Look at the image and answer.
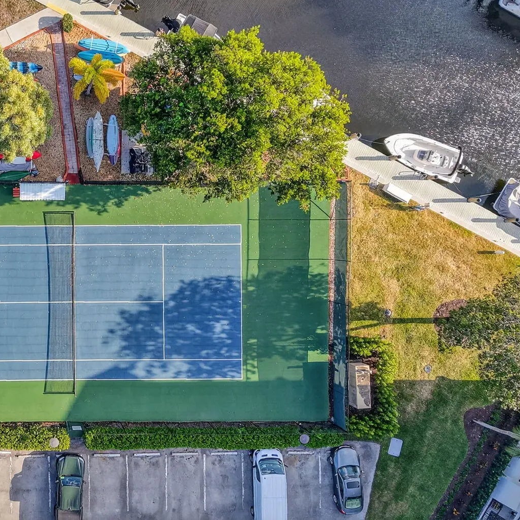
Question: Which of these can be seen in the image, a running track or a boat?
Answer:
boat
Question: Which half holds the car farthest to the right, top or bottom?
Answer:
bottom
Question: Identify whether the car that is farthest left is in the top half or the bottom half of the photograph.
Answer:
bottom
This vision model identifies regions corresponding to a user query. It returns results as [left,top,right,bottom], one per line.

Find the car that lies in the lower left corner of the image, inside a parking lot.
[54,454,87,520]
